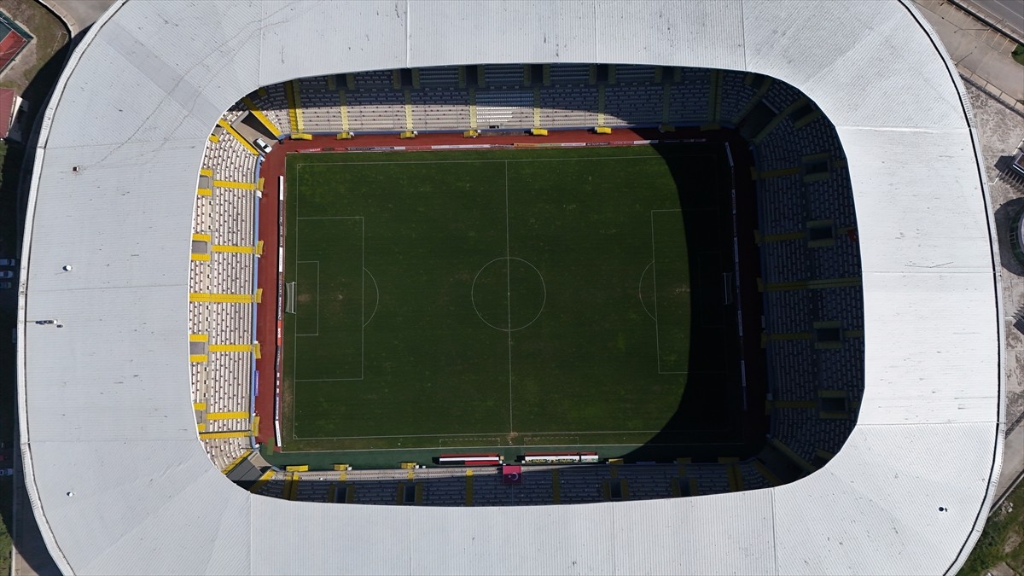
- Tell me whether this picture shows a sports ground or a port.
sports ground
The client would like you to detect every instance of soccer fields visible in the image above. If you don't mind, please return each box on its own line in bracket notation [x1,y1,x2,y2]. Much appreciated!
[279,143,745,453]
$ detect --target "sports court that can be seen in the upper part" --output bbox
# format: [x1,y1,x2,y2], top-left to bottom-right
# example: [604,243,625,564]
[0,10,38,81]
